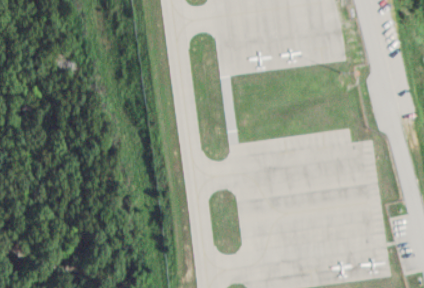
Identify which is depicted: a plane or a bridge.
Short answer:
plane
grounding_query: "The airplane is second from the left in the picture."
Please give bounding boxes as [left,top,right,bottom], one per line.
[280,48,302,64]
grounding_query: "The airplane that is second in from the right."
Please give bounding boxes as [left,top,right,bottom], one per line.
[330,261,353,278]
